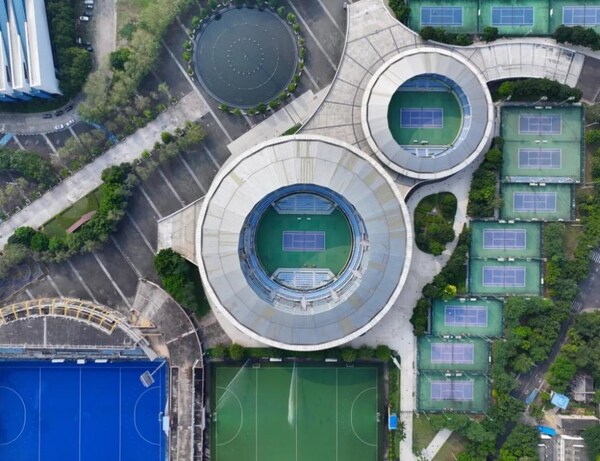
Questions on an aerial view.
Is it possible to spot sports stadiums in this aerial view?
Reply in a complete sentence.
Yes, a sports stadium is visible in the scene.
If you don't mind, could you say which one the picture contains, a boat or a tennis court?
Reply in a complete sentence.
I can see a tennis court in this picture.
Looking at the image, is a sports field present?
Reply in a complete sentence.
Yes, there's a sports field here.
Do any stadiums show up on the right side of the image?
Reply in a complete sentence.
Yes, I can see a stadium on the right side of the image.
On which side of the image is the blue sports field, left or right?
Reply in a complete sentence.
The blue sports field appears in the left half of the scene.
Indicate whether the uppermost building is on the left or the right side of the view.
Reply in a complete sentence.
The uppermost building is on the left side of the image.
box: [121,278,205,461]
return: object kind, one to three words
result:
building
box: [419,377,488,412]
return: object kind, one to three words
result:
tennis court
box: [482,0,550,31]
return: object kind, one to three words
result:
tennis court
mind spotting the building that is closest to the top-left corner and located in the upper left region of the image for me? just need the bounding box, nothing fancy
[0,0,63,104]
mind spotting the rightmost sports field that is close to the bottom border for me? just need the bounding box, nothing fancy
[212,363,379,461]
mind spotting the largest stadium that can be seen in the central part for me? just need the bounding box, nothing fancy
[196,135,412,350]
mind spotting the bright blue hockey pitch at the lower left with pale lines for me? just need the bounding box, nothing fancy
[0,361,169,461]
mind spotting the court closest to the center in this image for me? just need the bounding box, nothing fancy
[255,193,353,291]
